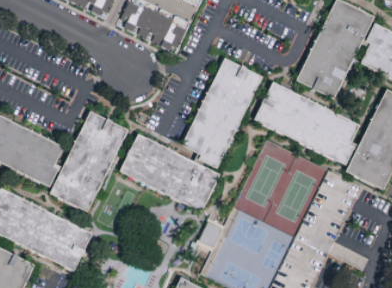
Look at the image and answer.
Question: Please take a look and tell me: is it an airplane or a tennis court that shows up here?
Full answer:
I can see a tennis court in this picture.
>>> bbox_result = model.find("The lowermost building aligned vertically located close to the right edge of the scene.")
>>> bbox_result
[346,90,392,192]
